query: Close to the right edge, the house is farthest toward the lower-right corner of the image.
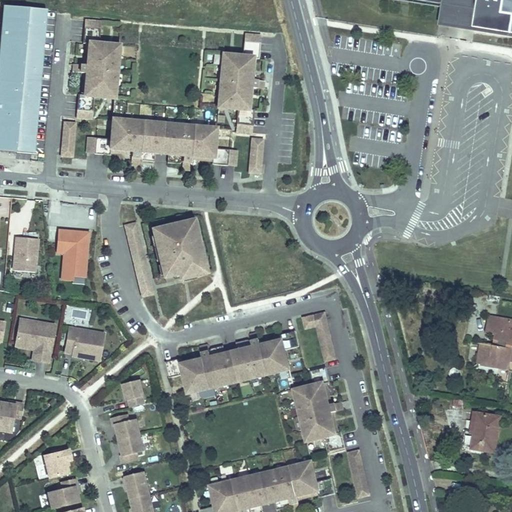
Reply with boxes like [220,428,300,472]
[470,410,502,454]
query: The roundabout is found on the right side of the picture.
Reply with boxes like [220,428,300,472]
[282,182,370,258]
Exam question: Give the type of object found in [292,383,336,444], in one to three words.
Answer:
house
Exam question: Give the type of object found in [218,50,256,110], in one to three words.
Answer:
house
